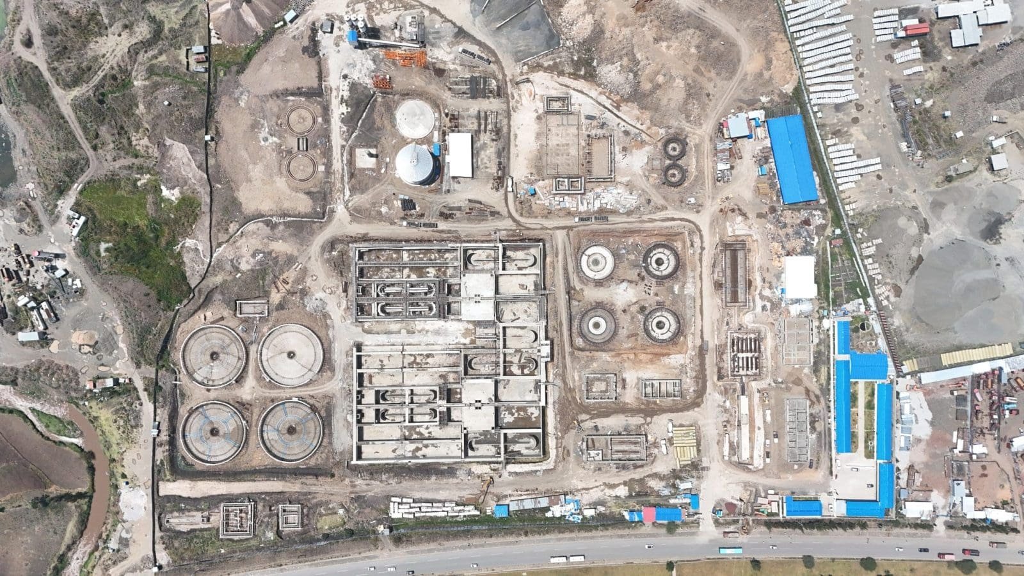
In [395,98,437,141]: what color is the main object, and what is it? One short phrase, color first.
white storage tank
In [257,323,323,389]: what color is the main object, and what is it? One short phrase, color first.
white storage tank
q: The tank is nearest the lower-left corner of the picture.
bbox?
[179,398,246,465]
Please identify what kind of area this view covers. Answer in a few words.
industrial area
